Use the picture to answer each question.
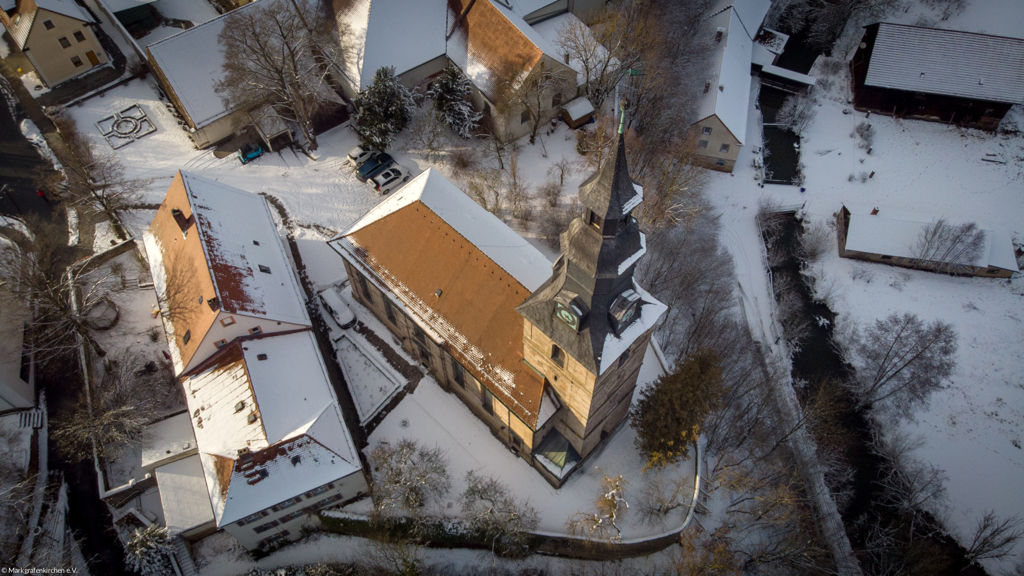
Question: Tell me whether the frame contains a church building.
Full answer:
Yes, the photo shows a church building.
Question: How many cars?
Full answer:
In total, there are 5 cars in the scene.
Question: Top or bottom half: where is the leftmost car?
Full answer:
Seen from above, the leftmost car lies in the top half of the view.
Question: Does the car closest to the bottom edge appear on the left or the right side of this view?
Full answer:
You can find the car closest to the bottom edge on the left side of the picture.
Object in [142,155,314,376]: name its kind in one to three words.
house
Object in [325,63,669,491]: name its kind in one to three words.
church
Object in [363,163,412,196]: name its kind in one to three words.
car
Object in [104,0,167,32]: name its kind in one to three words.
shed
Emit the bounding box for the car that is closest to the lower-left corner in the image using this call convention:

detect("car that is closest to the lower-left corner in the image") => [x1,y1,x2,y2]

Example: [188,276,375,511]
[319,285,359,329]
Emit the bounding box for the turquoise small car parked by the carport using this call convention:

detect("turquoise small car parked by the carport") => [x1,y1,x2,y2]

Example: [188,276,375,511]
[230,139,268,165]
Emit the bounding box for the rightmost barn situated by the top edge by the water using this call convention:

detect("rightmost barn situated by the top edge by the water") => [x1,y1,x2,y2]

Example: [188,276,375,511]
[853,19,1024,129]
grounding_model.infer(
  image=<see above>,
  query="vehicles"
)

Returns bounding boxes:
[363,163,412,196]
[350,154,395,187]
[341,143,377,168]
[230,139,268,165]
[319,285,359,329]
